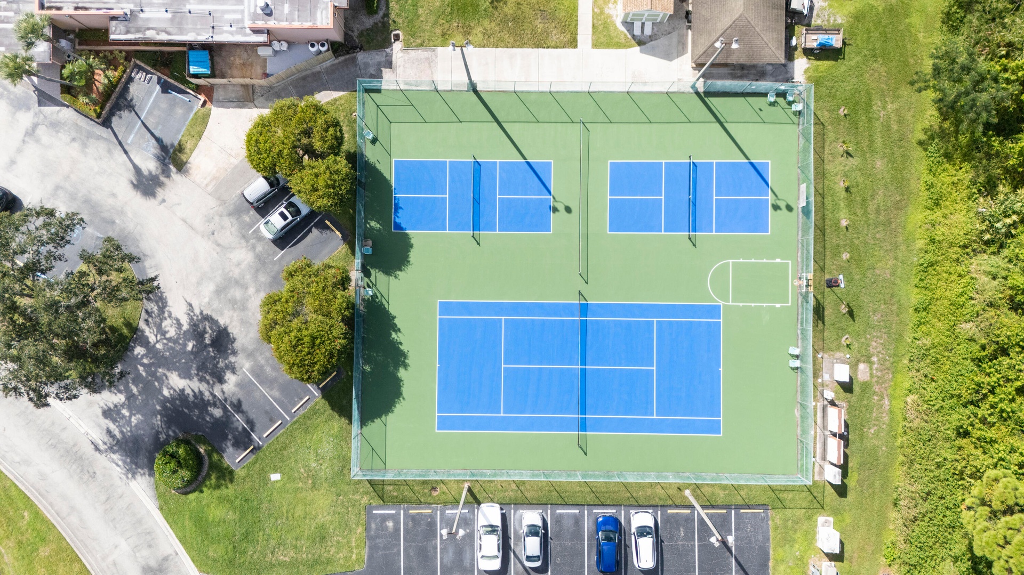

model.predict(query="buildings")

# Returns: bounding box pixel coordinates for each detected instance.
[689,0,786,69]
[35,0,350,50]
[621,0,672,22]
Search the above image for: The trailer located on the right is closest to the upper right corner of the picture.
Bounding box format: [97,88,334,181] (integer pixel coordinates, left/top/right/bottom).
[799,26,856,56]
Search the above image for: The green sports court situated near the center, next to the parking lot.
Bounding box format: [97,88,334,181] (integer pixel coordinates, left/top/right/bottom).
[360,90,802,475]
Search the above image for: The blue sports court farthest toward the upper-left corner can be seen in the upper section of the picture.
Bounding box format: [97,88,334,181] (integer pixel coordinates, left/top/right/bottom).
[392,158,553,233]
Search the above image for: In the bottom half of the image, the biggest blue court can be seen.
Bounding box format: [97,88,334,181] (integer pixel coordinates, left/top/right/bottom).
[435,300,722,436]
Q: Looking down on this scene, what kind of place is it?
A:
sports ground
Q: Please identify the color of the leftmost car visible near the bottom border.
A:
white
